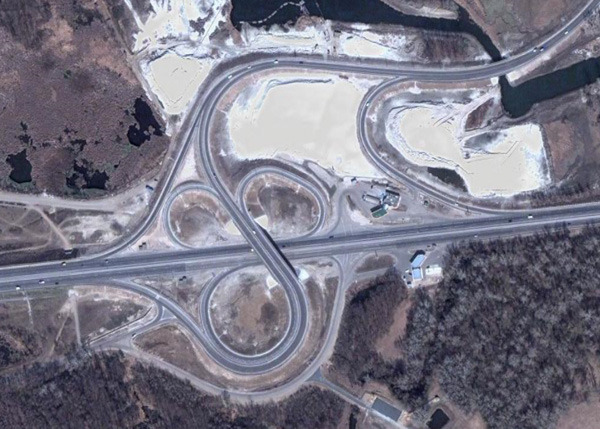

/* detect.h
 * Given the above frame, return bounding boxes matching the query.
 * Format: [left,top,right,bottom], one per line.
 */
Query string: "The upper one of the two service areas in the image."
[329,181,457,236]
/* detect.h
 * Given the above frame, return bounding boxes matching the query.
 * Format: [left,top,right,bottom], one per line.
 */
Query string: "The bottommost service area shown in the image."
[336,244,446,288]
